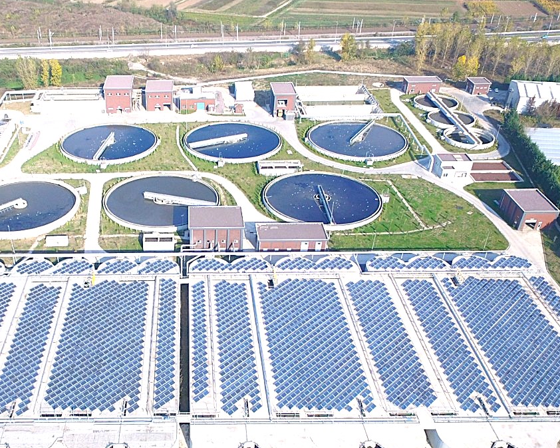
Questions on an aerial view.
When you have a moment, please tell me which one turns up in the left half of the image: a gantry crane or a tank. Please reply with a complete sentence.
You can see a tank in the left half of the image.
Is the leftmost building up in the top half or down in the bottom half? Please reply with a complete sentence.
You can find the leftmost building in the top half.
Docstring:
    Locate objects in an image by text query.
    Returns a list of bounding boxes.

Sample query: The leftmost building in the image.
[104,77,133,113]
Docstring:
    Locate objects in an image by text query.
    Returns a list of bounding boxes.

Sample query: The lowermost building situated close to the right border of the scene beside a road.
[499,188,560,230]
